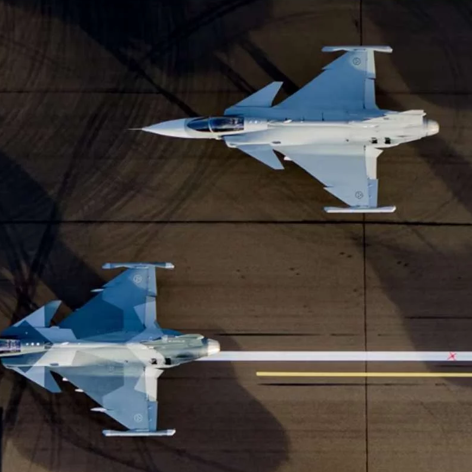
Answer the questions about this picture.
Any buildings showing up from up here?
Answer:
No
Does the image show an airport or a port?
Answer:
airport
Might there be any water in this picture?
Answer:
No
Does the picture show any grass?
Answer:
No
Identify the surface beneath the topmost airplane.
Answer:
apron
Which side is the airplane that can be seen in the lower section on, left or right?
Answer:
left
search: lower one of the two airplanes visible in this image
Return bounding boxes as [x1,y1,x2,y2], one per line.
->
[0,262,220,437]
